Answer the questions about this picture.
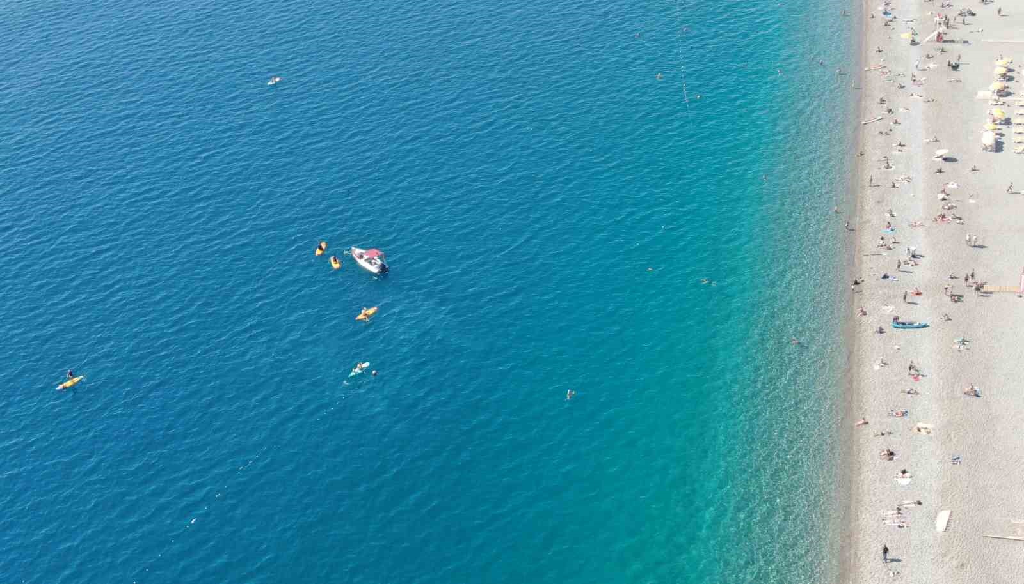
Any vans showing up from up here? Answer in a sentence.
No, this view has no van in it.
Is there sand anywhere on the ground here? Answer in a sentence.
Yes, there is sand in the image.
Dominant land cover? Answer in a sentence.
The bulk of the photo consists of water.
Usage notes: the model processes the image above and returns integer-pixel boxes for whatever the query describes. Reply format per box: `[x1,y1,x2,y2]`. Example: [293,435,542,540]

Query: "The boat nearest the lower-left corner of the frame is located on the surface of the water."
[56,375,84,389]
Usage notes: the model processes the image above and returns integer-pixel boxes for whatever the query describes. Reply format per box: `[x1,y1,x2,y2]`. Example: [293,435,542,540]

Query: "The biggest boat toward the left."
[353,245,389,275]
